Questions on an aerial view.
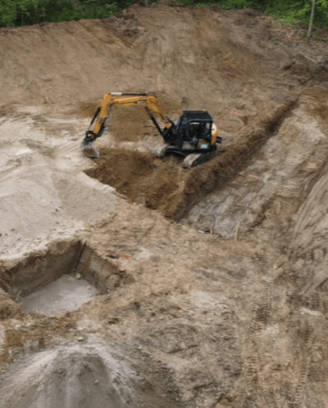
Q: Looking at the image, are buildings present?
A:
No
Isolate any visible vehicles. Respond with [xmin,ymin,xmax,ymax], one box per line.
[80,90,229,173]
